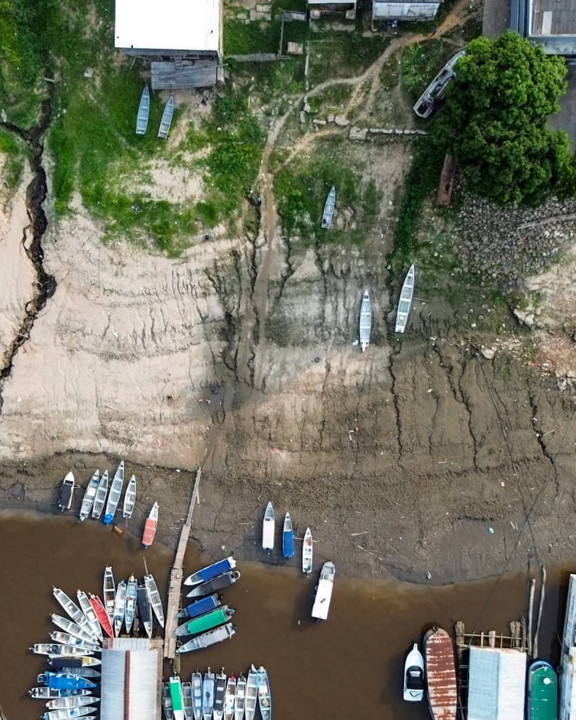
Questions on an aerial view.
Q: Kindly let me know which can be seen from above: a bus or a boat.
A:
boat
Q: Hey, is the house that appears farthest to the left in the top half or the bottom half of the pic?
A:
bottom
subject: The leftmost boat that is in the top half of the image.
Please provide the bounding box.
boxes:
[135,84,149,134]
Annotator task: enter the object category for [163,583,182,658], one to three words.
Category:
pier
